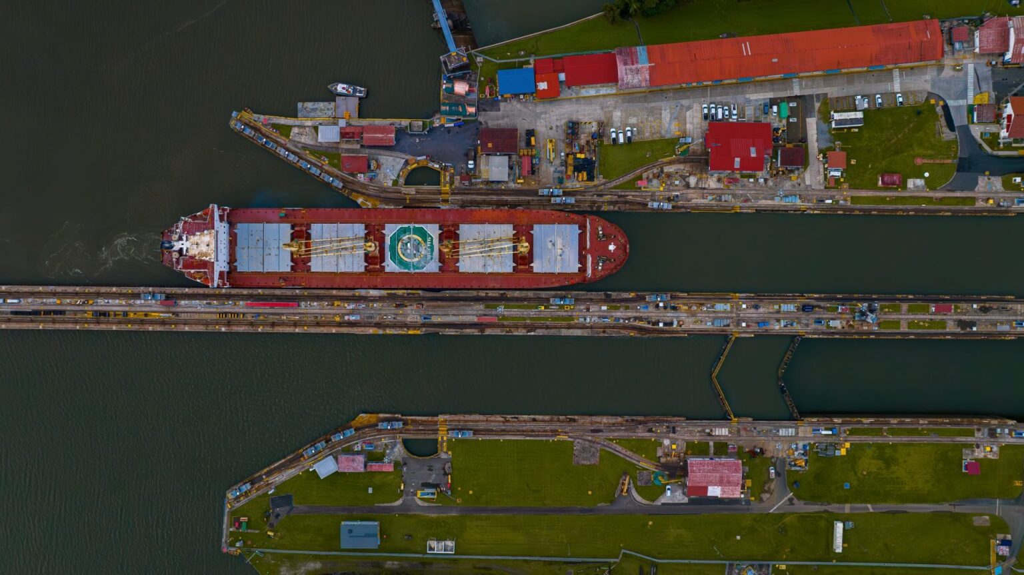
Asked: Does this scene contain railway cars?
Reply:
Yes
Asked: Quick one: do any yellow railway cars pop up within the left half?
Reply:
No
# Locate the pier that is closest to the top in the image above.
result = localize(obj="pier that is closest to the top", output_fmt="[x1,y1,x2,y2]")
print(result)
[429,0,475,58]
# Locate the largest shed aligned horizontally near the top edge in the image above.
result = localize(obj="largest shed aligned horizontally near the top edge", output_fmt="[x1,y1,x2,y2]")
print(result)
[647,19,944,88]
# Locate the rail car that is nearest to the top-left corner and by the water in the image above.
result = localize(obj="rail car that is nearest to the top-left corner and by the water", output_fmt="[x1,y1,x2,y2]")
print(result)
[234,122,257,139]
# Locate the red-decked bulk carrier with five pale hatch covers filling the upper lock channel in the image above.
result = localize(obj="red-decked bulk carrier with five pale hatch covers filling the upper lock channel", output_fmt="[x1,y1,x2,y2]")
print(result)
[160,204,630,288]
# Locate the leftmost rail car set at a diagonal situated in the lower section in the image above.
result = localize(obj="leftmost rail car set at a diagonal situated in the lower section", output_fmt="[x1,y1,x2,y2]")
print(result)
[229,481,253,499]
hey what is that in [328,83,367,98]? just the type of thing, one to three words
boat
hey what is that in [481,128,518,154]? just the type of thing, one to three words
shed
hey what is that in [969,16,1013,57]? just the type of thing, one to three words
house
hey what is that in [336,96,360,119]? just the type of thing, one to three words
pier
